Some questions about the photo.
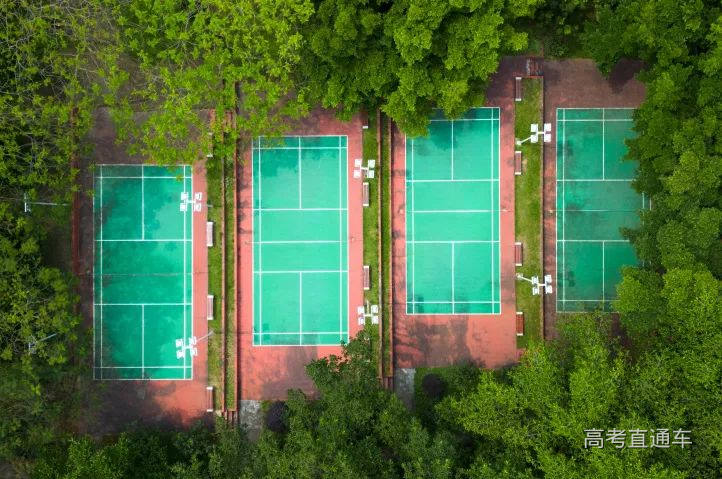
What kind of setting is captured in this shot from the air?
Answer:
sports ground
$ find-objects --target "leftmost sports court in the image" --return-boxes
[80,109,207,435]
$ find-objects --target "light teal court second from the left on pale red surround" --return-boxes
[238,109,362,400]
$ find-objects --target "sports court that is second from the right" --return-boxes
[392,56,527,368]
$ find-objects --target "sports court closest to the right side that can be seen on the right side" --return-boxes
[544,58,673,346]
